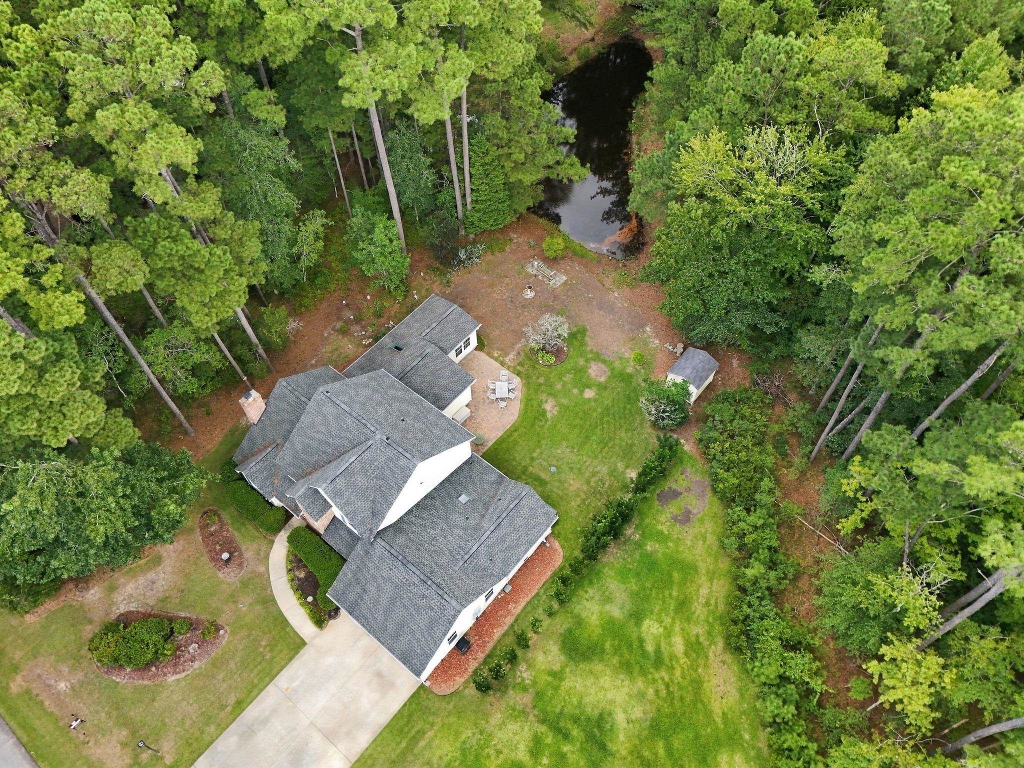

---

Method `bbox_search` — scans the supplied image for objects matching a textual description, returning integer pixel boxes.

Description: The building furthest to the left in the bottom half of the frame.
[231,295,560,692]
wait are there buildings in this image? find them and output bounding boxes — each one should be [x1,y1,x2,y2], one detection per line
[231,295,560,692]
[667,348,719,407]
